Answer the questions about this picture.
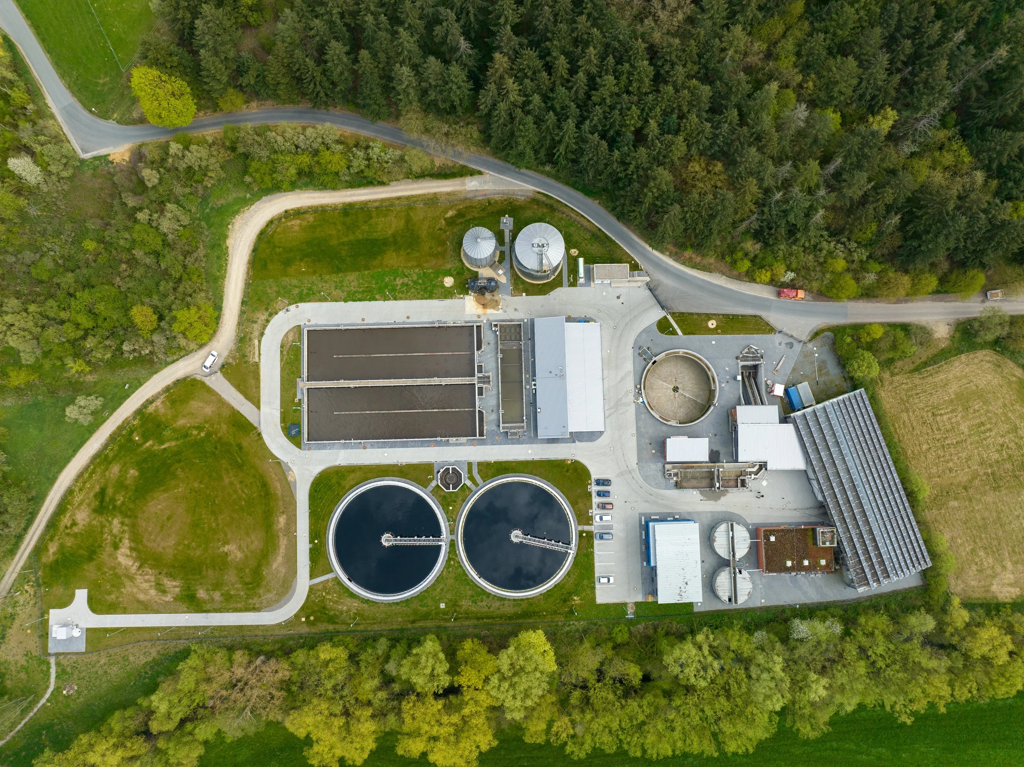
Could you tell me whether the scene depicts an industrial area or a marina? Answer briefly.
industrial area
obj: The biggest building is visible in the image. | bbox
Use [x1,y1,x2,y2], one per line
[787,389,931,592]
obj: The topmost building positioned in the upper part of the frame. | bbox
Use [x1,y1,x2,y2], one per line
[593,264,629,284]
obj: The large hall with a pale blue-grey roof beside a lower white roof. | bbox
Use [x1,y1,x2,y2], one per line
[535,316,607,438]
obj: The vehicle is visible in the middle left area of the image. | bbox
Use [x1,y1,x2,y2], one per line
[203,349,217,371]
